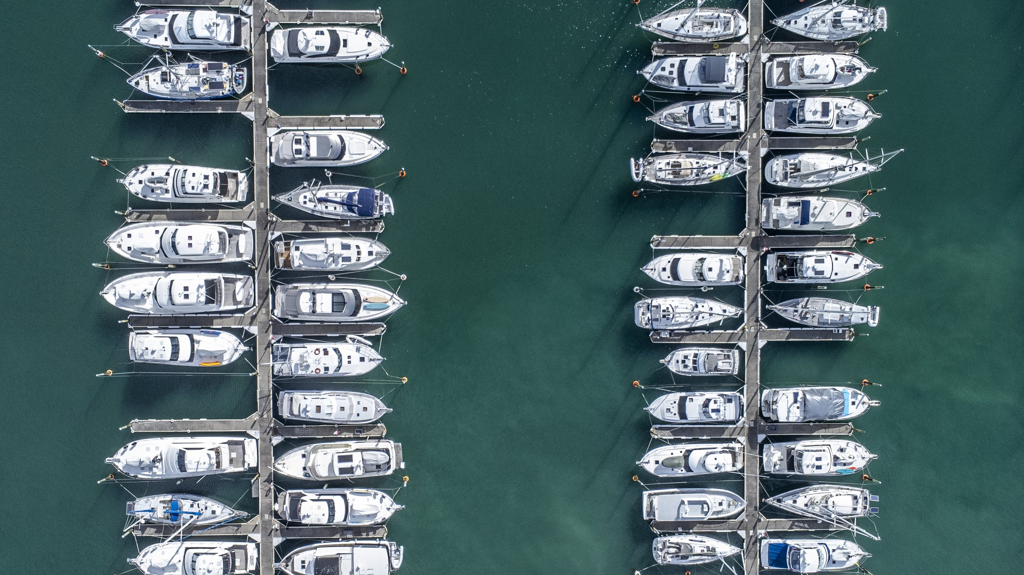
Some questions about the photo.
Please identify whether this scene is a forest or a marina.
marina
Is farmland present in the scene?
No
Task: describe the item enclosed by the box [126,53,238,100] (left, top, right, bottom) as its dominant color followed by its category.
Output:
white boat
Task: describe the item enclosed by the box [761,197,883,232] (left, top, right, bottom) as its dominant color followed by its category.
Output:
white boat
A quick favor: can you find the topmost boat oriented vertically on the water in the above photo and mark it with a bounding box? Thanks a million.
[876,7,890,34]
